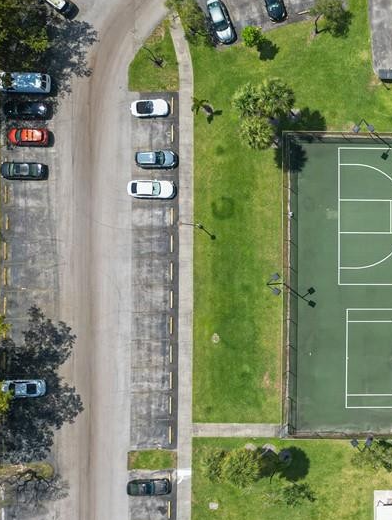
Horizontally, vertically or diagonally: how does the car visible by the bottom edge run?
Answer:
horizontally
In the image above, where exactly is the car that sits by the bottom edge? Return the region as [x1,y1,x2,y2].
[127,477,173,498]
